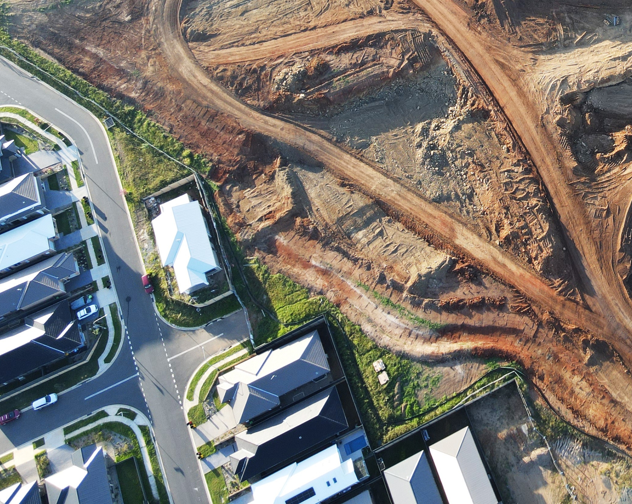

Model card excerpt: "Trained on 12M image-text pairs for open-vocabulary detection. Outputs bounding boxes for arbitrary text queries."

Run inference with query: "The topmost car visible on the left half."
[138,271,154,295]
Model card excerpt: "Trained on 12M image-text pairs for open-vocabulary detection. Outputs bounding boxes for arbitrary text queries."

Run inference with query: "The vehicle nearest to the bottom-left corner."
[0,407,20,425]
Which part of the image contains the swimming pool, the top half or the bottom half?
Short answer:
bottom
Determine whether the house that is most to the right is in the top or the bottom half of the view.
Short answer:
bottom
